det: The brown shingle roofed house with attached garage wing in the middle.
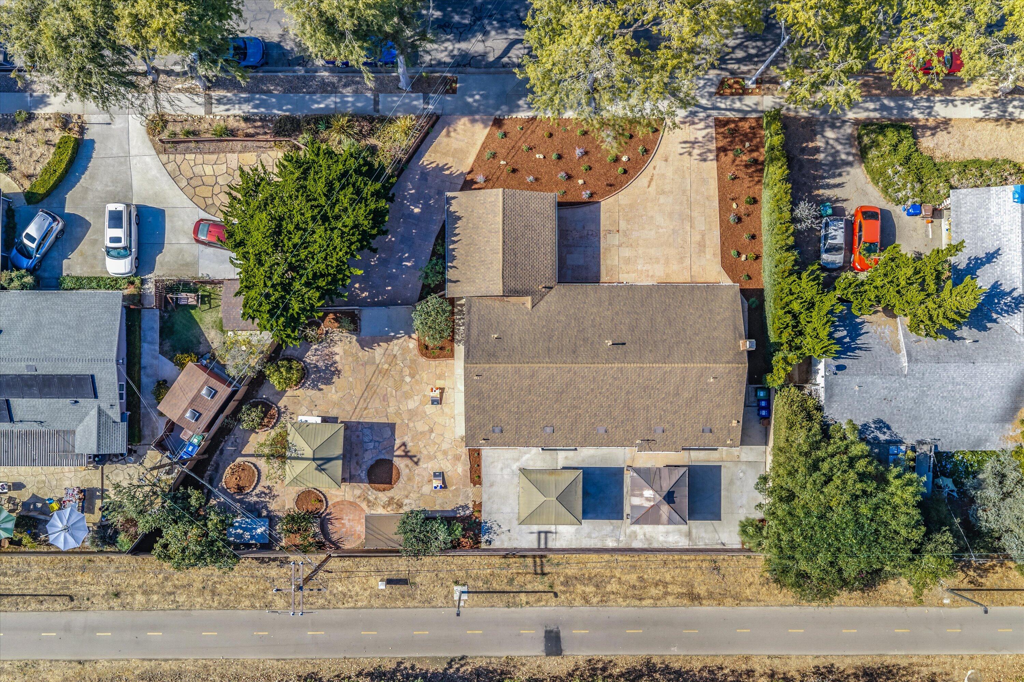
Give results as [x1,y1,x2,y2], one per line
[444,188,760,455]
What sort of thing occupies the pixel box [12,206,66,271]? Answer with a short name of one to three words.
car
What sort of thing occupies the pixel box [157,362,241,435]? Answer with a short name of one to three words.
shed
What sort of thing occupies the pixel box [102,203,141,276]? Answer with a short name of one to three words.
car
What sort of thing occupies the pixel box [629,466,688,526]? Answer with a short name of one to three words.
gazebo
